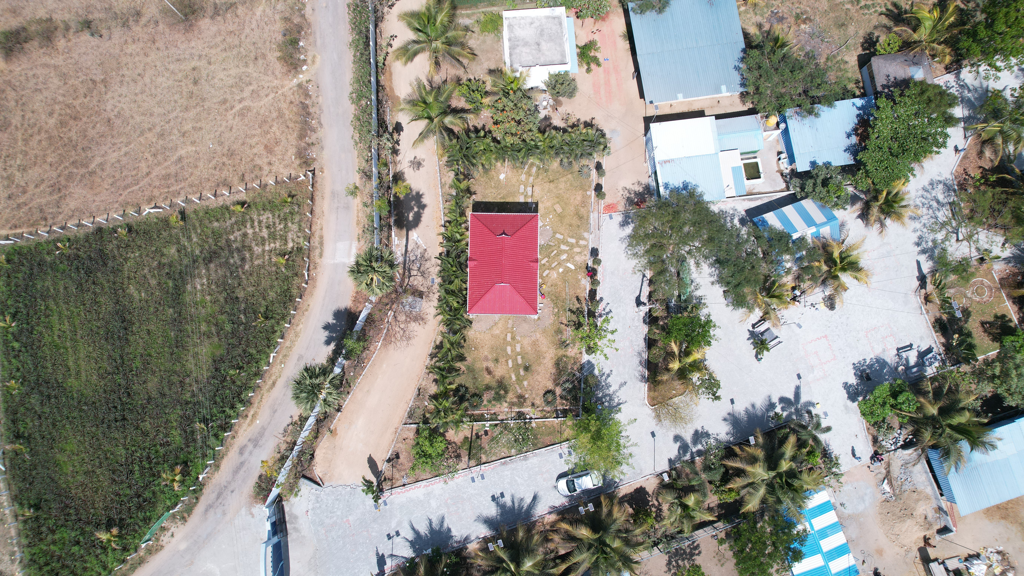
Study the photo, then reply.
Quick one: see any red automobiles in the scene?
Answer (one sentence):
No, I can't see a single red automobile in this photo.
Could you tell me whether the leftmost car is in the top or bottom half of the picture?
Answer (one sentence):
The leftmost car is in the bottom half of the image.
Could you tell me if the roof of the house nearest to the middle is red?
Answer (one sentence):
Yes, red is the color of the roof of the house nearest to the middle.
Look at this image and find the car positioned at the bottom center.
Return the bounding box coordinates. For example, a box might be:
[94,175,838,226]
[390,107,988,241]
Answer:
[554,469,606,501]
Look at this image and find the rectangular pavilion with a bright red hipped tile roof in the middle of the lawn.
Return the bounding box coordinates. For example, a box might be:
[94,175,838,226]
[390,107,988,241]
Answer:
[467,212,545,315]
